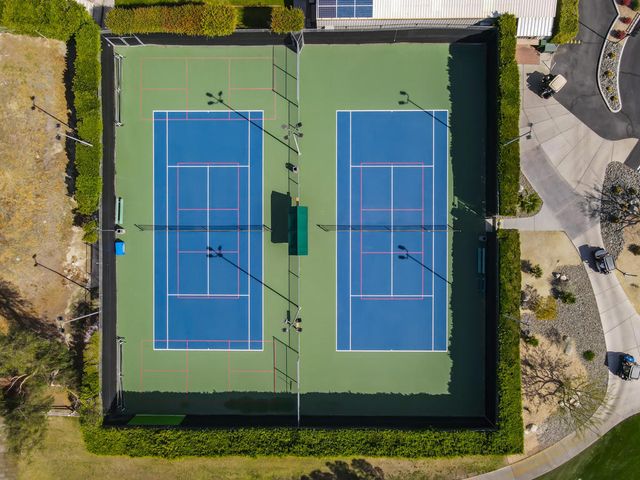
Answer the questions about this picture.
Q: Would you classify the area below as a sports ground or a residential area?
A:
sports ground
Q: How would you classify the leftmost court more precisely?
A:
tennis court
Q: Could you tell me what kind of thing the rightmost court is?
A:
tennis court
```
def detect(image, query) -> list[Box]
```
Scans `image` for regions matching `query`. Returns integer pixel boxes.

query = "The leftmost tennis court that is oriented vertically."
[115,45,298,416]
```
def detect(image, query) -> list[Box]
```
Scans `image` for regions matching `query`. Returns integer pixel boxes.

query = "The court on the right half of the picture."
[298,45,486,416]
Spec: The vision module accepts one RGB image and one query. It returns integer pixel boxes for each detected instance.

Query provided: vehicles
[538,74,565,98]
[617,356,640,382]
[591,249,618,274]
